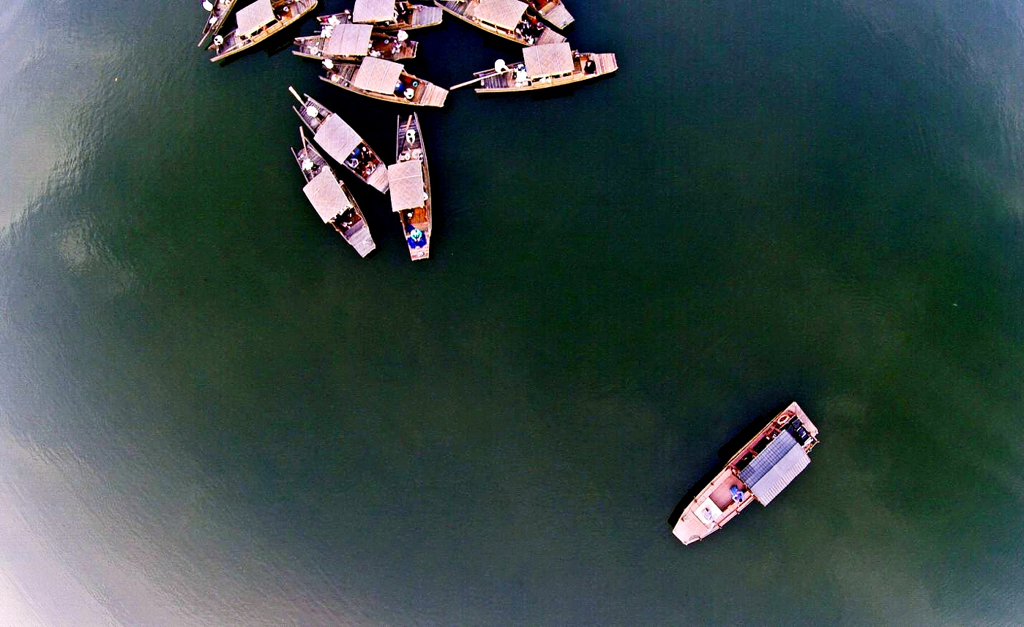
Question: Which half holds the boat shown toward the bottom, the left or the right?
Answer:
right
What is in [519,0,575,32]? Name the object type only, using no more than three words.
boat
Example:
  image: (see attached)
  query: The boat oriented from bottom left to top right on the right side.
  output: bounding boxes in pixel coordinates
[672,402,821,548]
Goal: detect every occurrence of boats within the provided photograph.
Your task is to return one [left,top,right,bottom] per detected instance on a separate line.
[437,0,567,49]
[205,0,318,62]
[317,0,443,41]
[292,24,418,68]
[519,0,575,32]
[291,92,391,196]
[318,56,449,111]
[672,402,821,548]
[201,0,243,35]
[389,112,435,260]
[473,42,619,95]
[289,137,378,258]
